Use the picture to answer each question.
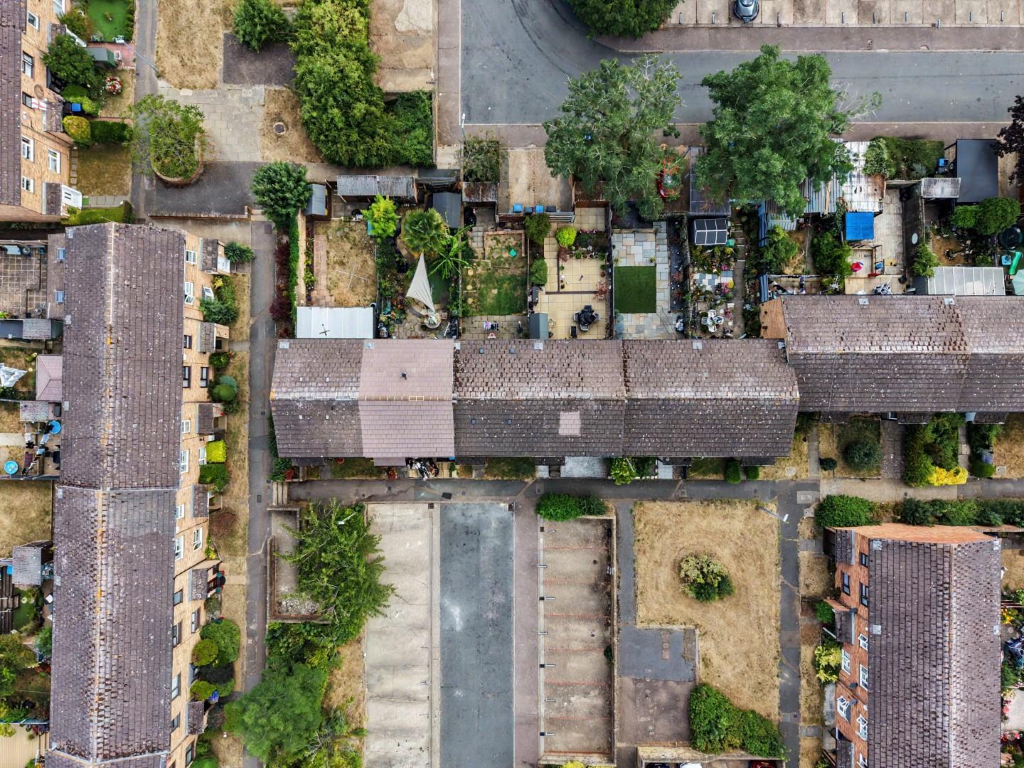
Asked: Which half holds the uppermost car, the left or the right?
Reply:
right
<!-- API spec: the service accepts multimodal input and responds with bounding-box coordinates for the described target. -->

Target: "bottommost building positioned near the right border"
[822,679,1003,768]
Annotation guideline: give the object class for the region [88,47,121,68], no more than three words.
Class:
building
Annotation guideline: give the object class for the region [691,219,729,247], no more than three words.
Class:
greenhouse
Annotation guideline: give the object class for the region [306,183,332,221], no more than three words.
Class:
shed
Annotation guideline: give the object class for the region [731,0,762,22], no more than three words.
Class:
car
